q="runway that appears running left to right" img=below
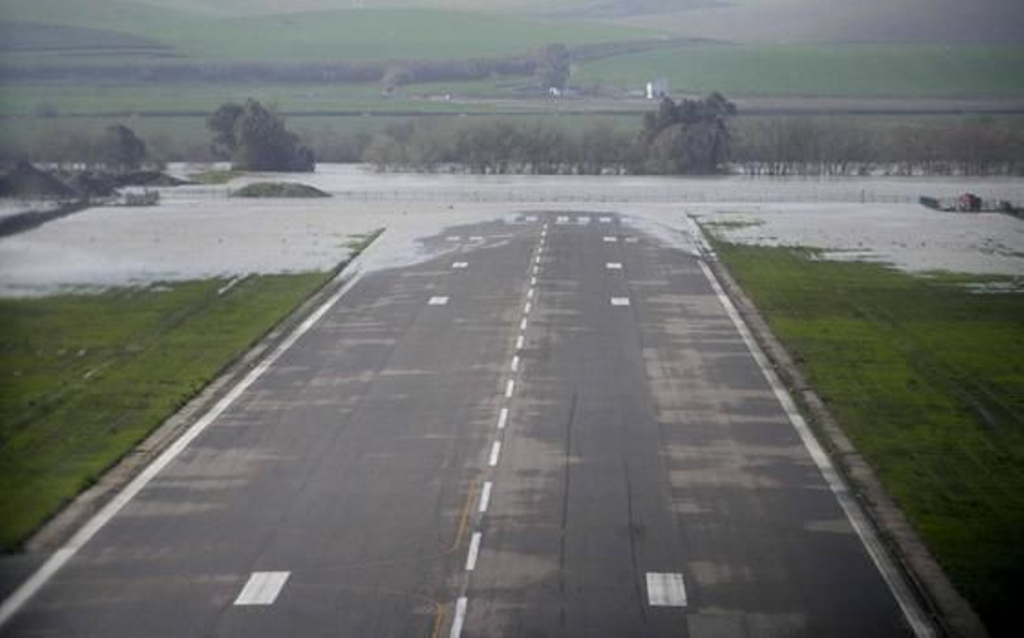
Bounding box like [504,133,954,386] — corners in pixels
[0,210,950,638]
